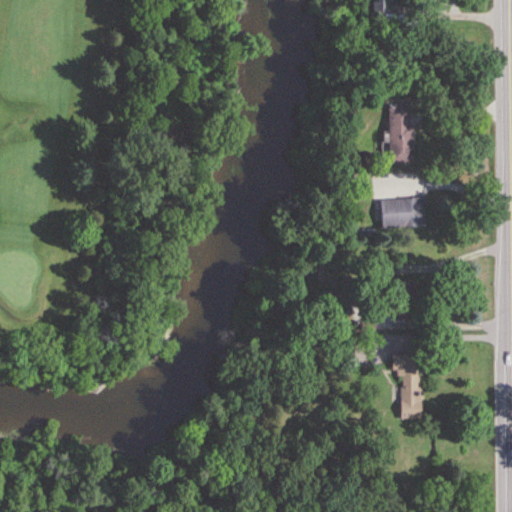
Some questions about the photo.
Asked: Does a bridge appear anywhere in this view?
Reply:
No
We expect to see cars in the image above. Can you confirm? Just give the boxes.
[506,354,512,366]
[373,354,380,364]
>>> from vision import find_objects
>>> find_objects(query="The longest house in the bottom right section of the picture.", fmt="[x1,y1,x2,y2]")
[394,352,426,420]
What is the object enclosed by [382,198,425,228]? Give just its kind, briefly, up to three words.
building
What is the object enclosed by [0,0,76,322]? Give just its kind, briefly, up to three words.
golf course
